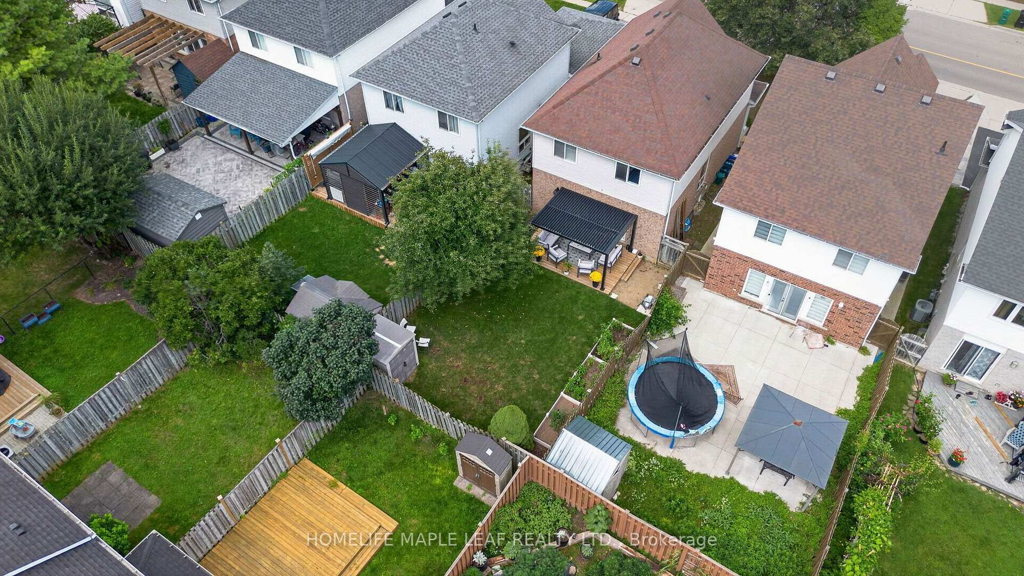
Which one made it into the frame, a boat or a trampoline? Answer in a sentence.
Of the two, only a trampoline appears.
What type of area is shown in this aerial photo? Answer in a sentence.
The area seen from above is a residential area.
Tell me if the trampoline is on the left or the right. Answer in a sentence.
It is on the right.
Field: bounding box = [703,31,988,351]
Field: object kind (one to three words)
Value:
house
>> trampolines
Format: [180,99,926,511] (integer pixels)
[631,329,726,446]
